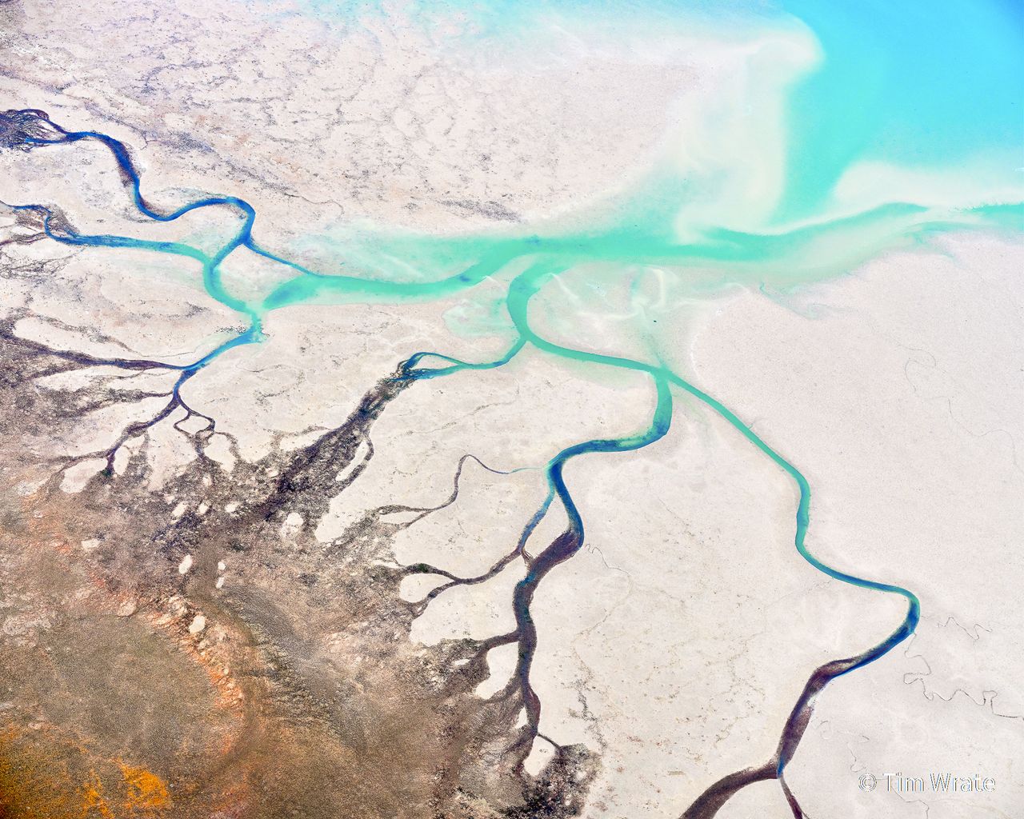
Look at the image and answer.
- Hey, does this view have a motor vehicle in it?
No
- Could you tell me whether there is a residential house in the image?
No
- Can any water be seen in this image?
Yes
